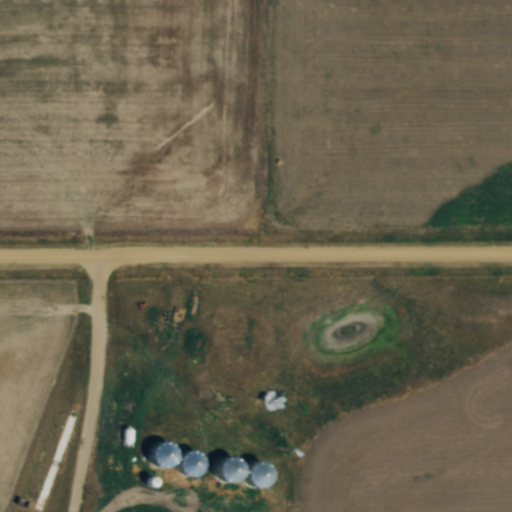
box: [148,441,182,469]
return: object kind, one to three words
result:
silo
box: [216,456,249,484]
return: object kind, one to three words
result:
silo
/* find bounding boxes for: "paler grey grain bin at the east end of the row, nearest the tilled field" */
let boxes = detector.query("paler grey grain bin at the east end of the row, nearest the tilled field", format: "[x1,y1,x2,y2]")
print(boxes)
[245,461,278,490]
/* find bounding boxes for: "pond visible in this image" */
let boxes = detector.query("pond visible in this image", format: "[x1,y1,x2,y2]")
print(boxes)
[320,314,385,352]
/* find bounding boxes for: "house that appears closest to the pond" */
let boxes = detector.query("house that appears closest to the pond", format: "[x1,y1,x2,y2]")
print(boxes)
[262,391,287,413]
